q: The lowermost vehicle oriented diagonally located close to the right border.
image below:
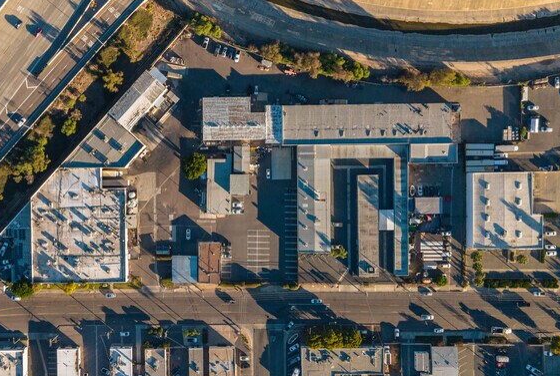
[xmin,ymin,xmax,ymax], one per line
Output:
[526,364,542,376]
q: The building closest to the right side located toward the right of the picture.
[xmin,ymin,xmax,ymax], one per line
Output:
[467,172,544,249]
